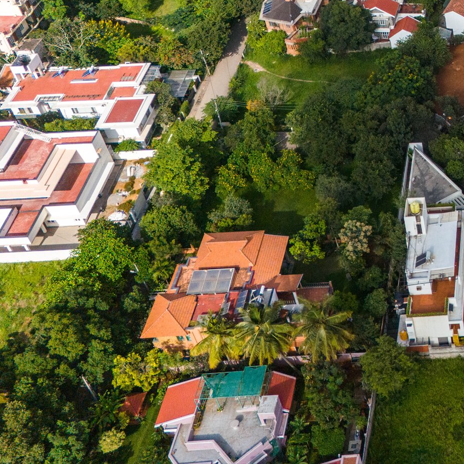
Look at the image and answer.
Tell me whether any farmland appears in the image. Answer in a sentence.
No, farmland can't be seen anywhere here.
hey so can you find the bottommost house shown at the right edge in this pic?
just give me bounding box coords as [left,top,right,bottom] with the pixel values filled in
[391,199,464,361]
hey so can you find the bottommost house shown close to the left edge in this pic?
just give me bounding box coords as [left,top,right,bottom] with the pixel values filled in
[0,122,118,250]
